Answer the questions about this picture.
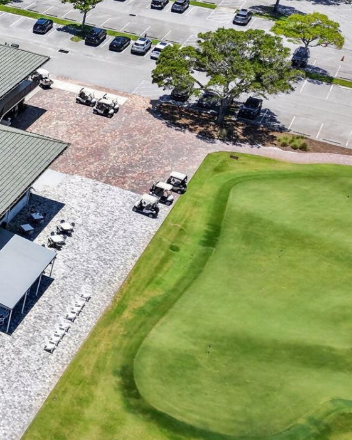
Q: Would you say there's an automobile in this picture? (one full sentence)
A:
Yes, an automobile can be made out from above.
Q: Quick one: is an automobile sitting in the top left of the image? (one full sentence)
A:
Yes, an automobile appears in the top left of the image.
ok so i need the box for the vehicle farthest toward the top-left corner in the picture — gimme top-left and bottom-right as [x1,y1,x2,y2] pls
[29,15,54,34]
